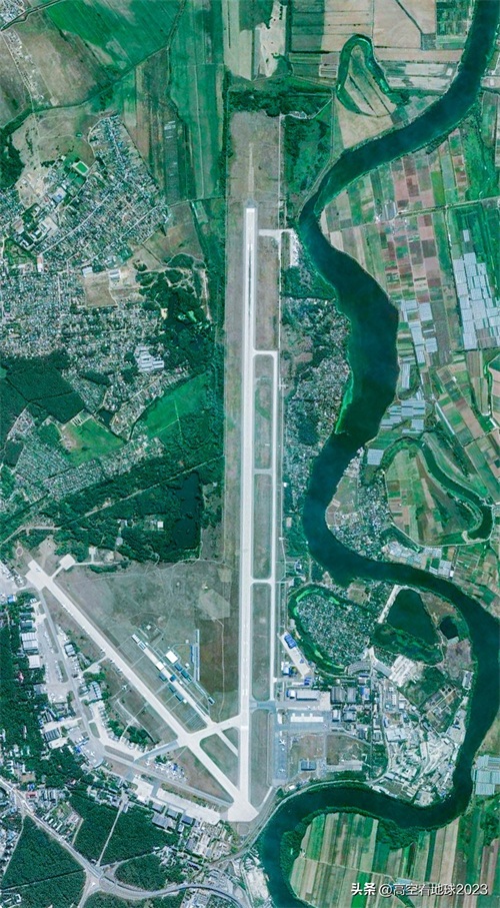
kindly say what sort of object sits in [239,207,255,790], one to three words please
runway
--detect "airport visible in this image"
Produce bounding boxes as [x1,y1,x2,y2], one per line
[0,135,331,825]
